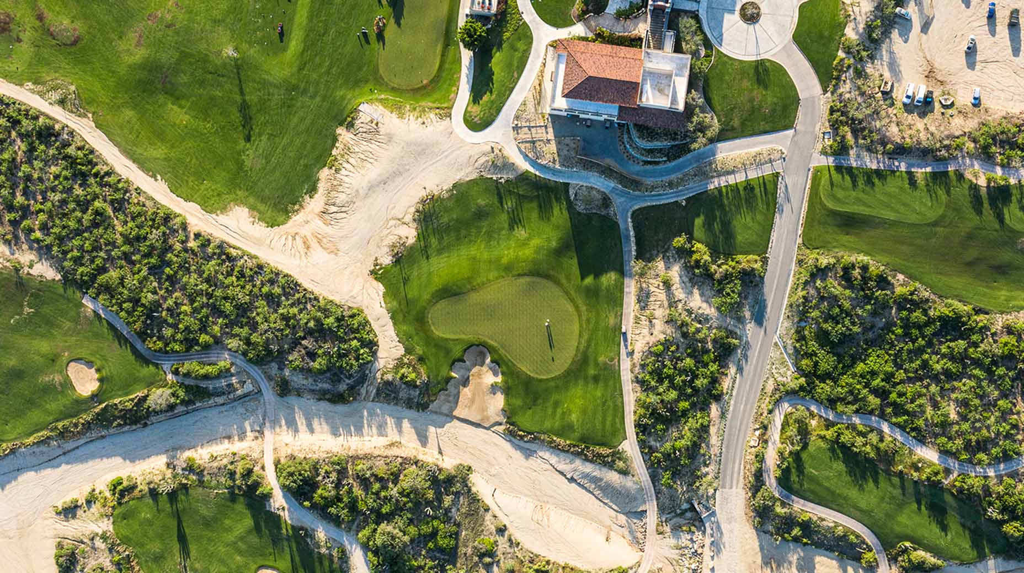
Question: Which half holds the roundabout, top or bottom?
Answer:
top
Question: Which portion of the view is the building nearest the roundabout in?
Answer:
top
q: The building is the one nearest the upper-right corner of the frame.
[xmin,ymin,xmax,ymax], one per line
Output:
[540,4,691,129]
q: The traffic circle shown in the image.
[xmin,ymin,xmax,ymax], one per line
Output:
[700,0,800,60]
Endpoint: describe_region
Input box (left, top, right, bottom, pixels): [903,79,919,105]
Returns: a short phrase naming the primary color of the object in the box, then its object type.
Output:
white vehicle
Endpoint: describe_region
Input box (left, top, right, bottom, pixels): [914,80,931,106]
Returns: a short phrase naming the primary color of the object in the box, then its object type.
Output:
white vehicle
